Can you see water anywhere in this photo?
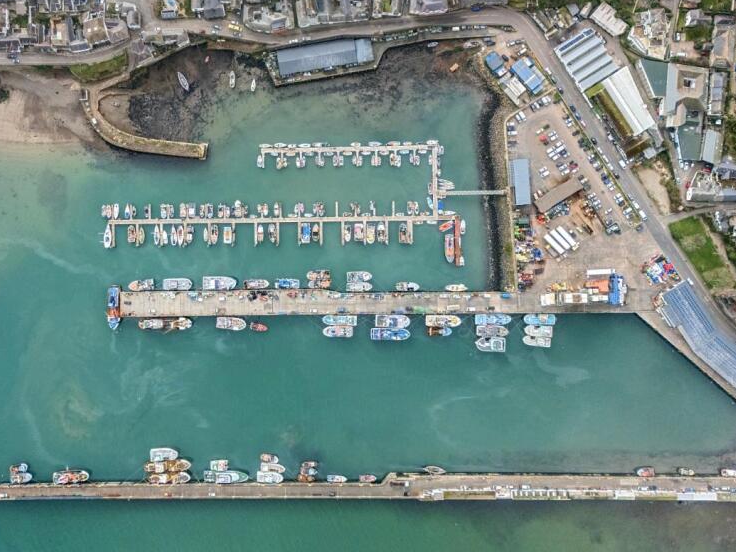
Yes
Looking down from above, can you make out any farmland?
No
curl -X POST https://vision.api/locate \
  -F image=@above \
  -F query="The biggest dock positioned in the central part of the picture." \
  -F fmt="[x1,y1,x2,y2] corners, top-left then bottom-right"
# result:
[120,290,516,318]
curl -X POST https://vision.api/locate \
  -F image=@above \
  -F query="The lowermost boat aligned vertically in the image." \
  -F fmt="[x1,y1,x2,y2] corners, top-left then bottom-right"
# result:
[107,285,119,329]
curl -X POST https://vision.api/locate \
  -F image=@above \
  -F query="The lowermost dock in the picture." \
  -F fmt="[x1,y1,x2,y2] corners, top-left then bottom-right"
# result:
[0,471,736,502]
